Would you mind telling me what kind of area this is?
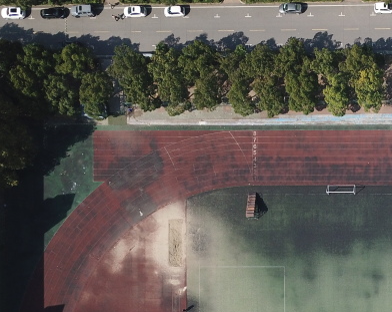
sports ground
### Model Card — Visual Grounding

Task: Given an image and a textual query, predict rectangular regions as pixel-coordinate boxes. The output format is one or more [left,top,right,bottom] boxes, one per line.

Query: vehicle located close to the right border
[372,0,392,13]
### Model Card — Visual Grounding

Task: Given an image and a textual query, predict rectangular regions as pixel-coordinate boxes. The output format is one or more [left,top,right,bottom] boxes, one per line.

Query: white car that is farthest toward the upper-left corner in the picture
[0,4,23,18]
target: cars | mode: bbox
[121,3,147,17]
[67,2,93,16]
[161,3,186,17]
[0,4,23,18]
[39,3,65,18]
[372,0,392,13]
[278,0,302,14]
